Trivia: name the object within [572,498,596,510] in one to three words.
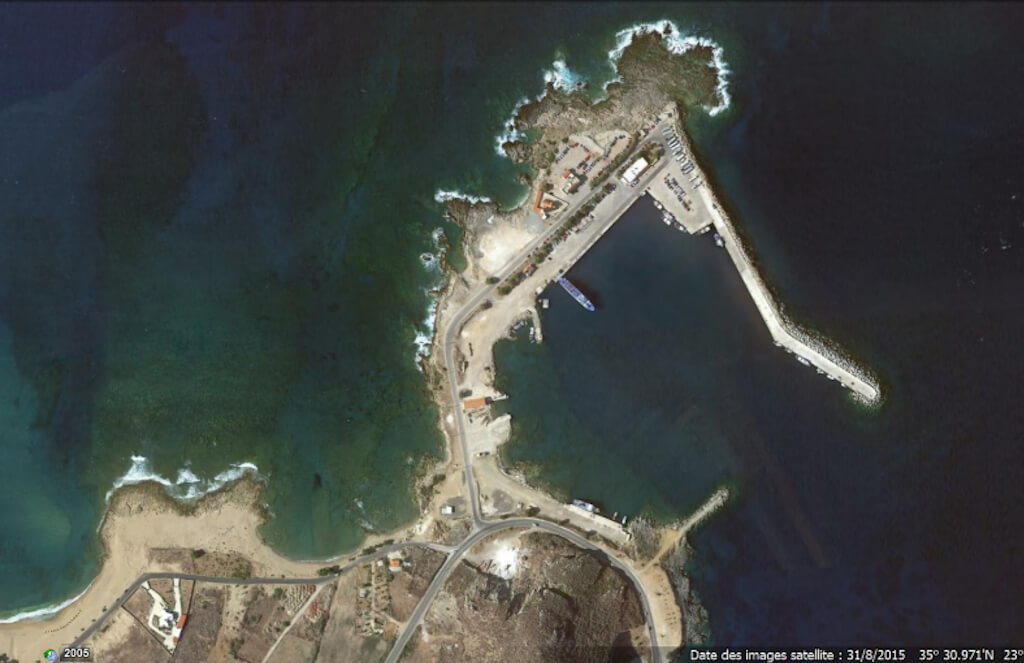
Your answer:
vessel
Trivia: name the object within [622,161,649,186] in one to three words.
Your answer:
building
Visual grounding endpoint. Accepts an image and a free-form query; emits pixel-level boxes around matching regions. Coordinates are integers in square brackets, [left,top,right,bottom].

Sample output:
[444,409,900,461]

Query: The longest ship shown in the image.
[557,276,594,309]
